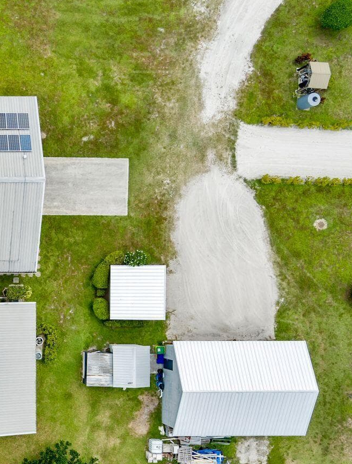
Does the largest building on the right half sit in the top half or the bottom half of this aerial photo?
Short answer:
bottom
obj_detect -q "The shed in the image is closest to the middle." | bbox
[104,265,167,320]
